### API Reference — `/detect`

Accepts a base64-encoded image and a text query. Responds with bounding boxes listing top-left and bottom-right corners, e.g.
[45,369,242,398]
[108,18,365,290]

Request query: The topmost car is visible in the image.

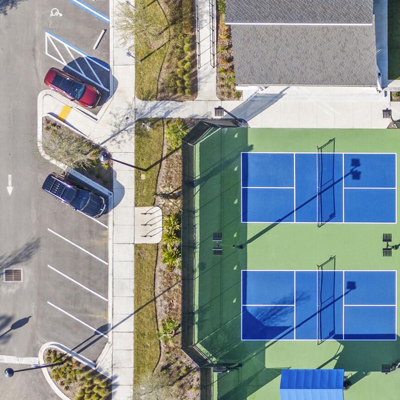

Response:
[42,66,103,110]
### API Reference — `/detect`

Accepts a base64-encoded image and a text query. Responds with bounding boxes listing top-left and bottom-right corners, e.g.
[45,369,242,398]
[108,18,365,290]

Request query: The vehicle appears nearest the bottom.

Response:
[39,173,108,219]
